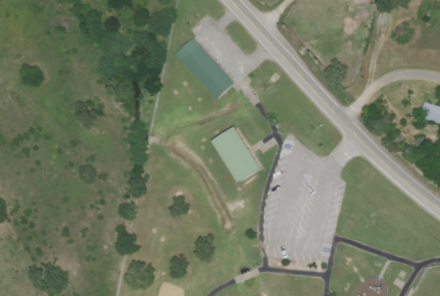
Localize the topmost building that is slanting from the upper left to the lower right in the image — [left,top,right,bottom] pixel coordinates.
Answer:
[176,38,235,100]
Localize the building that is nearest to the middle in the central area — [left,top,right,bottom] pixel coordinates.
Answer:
[212,126,262,184]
